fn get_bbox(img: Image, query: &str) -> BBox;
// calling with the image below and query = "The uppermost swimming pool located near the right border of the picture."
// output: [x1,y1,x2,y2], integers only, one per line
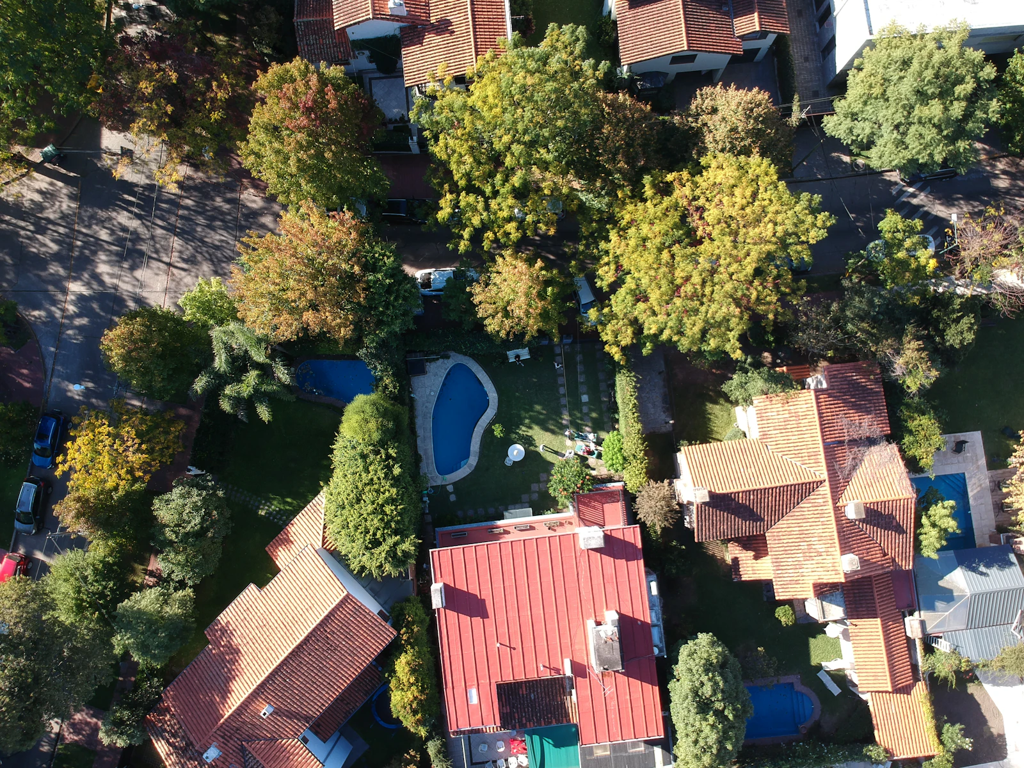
[900,431,994,545]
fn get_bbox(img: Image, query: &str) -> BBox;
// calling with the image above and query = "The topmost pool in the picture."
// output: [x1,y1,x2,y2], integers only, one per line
[288,352,384,409]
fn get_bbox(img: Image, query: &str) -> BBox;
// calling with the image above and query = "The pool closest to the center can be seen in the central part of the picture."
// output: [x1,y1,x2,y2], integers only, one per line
[415,352,498,484]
